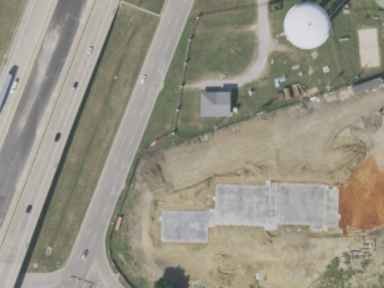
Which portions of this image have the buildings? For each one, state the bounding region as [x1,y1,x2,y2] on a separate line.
[346,78,384,96]
[200,92,232,118]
